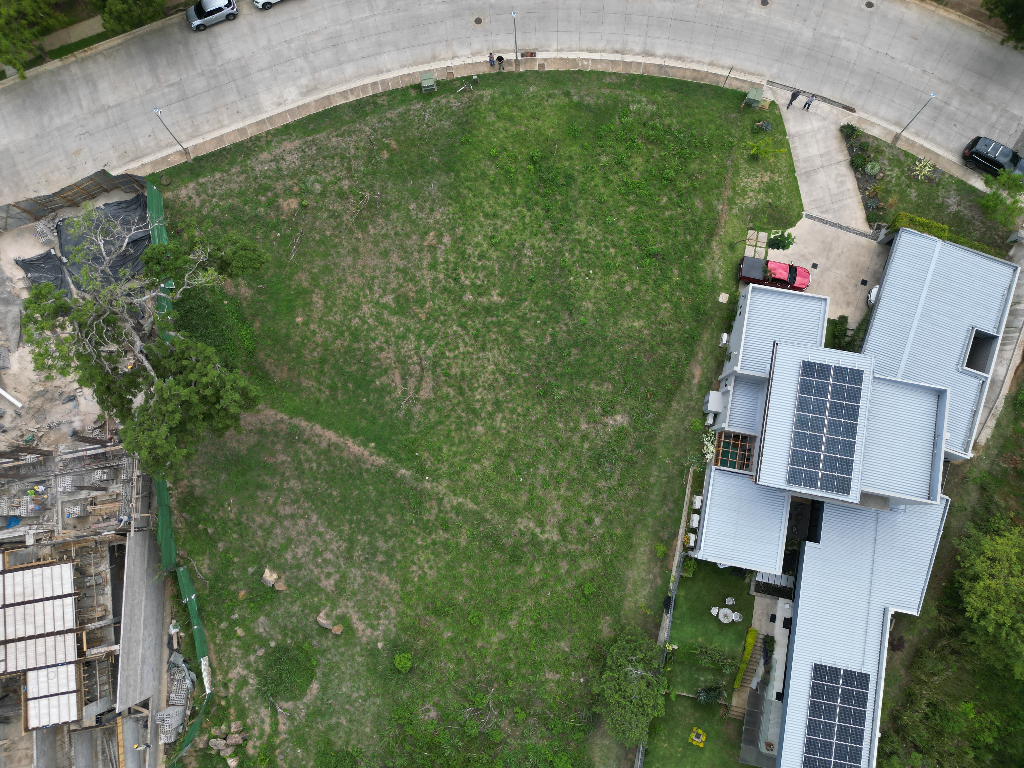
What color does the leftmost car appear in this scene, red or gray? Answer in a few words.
gray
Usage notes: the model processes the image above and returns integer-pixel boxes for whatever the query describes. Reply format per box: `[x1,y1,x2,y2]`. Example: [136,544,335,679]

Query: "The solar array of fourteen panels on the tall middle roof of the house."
[787,355,864,498]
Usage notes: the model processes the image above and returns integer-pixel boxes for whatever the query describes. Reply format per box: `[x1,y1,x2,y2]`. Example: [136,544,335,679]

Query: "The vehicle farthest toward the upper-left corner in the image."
[184,0,238,31]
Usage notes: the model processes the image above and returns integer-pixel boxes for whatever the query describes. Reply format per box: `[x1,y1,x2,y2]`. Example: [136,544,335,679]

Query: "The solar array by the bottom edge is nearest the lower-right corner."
[801,657,870,768]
